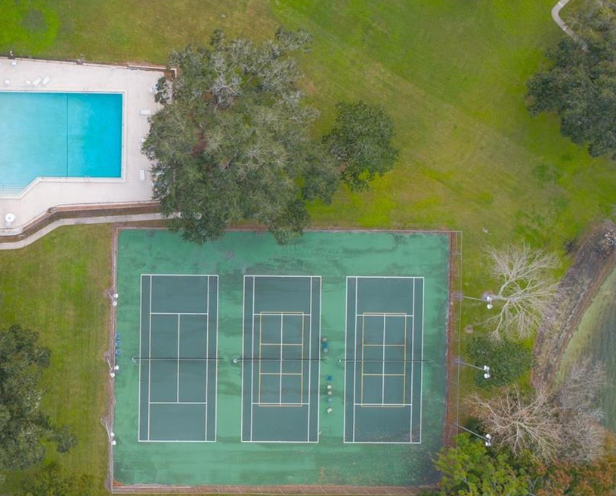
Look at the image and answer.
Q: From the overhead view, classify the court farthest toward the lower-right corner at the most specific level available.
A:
tennis court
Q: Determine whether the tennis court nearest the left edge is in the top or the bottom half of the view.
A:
bottom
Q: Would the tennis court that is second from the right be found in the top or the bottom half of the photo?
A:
bottom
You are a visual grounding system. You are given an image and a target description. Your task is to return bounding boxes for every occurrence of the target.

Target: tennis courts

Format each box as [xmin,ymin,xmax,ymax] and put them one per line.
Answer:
[343,276,425,444]
[138,275,219,443]
[242,275,322,443]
